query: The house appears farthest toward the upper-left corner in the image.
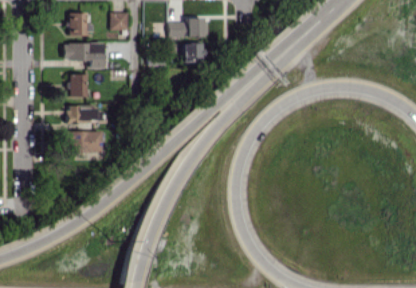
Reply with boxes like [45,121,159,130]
[67,13,92,36]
